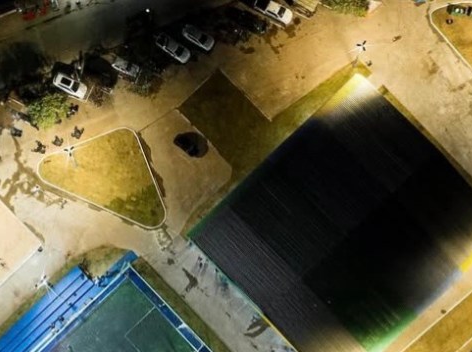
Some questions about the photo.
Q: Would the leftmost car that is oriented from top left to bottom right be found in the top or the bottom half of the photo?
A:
top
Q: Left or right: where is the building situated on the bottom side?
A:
right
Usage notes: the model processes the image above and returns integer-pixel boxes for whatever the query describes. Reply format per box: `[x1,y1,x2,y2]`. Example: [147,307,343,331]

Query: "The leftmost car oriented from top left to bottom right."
[51,69,88,99]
